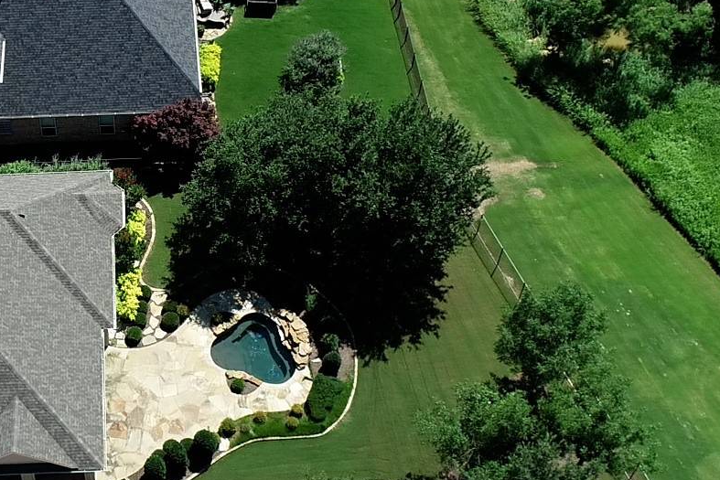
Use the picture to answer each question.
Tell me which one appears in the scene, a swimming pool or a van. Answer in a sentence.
It is a swimming pool that can be seen here.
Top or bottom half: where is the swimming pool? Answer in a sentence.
Seen from above, the swimming pool lies in the bottom half of the view.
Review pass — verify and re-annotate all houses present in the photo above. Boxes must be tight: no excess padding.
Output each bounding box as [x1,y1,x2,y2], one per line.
[0,0,203,145]
[0,169,127,480]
